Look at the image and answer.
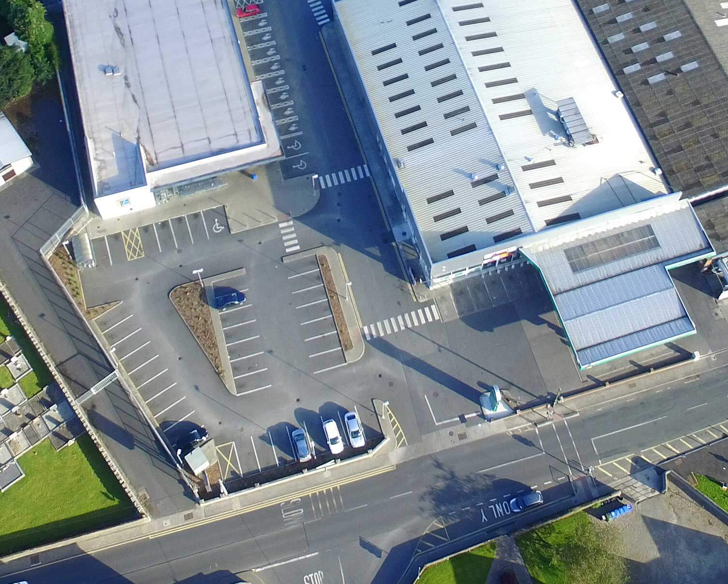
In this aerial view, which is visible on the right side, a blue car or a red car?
blue car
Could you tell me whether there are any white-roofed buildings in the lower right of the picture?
No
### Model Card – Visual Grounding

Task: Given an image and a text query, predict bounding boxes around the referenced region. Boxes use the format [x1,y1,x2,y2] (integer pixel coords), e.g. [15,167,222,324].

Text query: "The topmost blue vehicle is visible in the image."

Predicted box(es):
[214,290,245,308]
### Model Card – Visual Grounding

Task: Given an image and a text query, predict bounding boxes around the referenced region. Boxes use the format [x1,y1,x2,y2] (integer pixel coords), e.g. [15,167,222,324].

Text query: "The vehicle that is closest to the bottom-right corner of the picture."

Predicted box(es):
[510,490,544,513]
